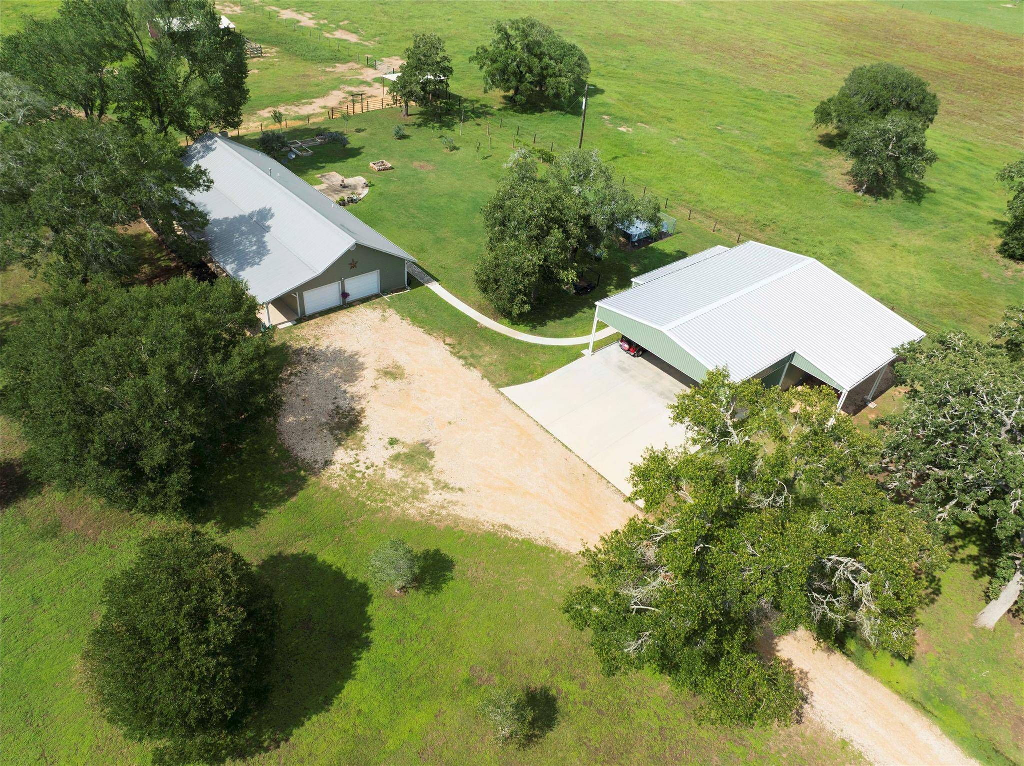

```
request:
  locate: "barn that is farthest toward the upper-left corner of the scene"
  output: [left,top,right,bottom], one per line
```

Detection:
[196,15,237,49]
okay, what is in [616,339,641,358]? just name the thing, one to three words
car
